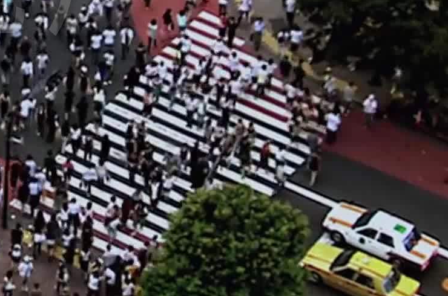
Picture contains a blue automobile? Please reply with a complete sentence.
No, no blue automobile is visible in the view.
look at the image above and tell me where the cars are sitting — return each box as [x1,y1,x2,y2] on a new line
[315,200,447,272]
[293,238,425,296]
